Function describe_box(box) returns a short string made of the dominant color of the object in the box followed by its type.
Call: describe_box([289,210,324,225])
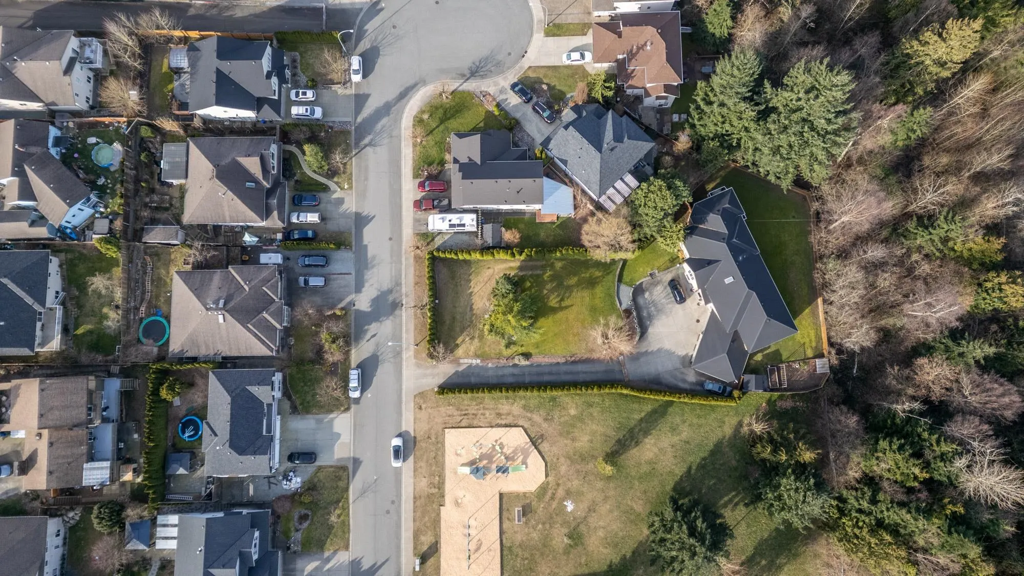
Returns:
white vehicle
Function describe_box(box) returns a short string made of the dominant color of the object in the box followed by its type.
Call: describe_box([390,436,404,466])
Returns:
white car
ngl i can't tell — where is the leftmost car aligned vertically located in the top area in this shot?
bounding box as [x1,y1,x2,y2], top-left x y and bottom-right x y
[349,55,363,84]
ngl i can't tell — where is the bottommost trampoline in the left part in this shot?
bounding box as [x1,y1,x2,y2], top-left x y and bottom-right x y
[178,416,203,441]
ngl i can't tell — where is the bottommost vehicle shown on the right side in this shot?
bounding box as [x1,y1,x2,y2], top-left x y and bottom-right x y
[702,379,733,397]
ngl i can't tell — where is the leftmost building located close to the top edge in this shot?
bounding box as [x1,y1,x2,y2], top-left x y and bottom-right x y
[0,25,118,113]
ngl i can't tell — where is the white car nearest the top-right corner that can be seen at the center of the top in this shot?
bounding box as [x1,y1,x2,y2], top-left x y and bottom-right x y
[562,50,592,65]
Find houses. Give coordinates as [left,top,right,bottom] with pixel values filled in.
[0,250,72,356]
[451,130,574,222]
[157,504,282,576]
[168,265,295,361]
[680,185,799,383]
[539,103,656,211]
[0,375,137,490]
[202,369,285,476]
[170,35,291,121]
[0,118,108,239]
[163,137,289,227]
[592,11,692,101]
[0,25,118,113]
[0,509,67,576]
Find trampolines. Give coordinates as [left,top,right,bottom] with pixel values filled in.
[138,315,170,346]
[178,416,203,441]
